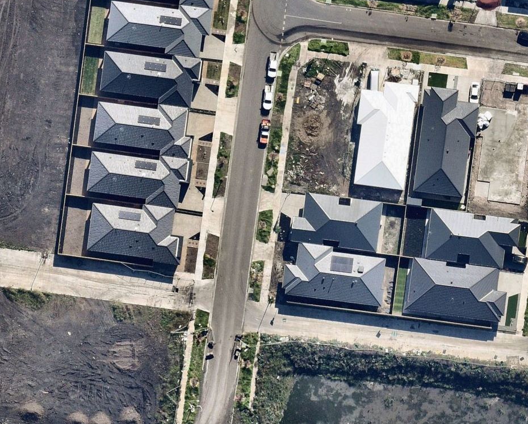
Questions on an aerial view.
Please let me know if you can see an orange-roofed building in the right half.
No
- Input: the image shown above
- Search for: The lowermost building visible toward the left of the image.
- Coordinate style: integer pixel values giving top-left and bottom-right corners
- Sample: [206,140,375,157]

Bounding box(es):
[86,202,183,265]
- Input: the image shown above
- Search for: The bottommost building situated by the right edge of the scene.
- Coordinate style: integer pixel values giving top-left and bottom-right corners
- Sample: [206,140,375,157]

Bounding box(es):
[407,257,507,322]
